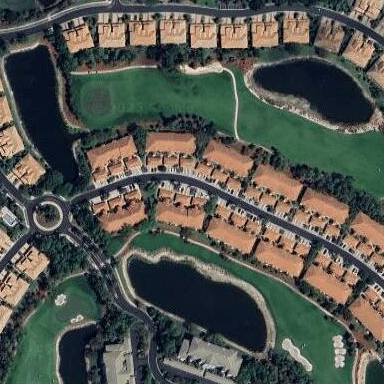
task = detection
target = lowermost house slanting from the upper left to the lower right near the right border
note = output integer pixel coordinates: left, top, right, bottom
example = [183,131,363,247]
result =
[348,297,384,343]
